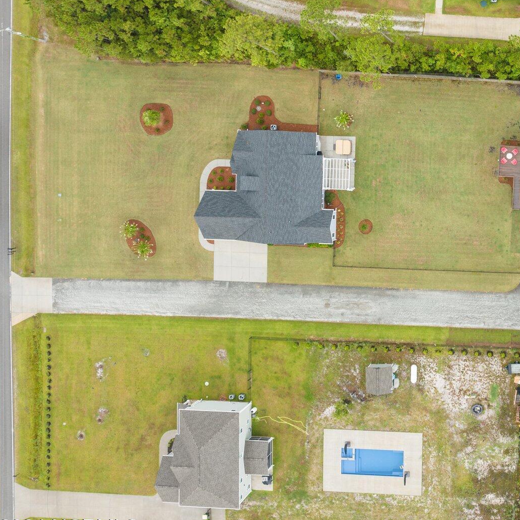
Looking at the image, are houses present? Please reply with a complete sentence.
Yes, the image includes a house.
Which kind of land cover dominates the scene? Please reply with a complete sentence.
The scene is dominated by grass.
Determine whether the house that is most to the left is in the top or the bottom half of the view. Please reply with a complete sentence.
Seen from above, the house that is most to the left lies in the bottom half of the view.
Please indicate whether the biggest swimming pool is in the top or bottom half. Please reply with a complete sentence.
The biggest swimming pool sits in the bottom half of the picture.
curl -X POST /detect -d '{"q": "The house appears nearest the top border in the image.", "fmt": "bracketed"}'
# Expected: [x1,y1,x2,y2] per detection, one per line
[194,127,337,245]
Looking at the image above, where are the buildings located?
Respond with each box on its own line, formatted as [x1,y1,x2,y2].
[365,360,400,397]
[194,127,337,245]
[156,402,251,512]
